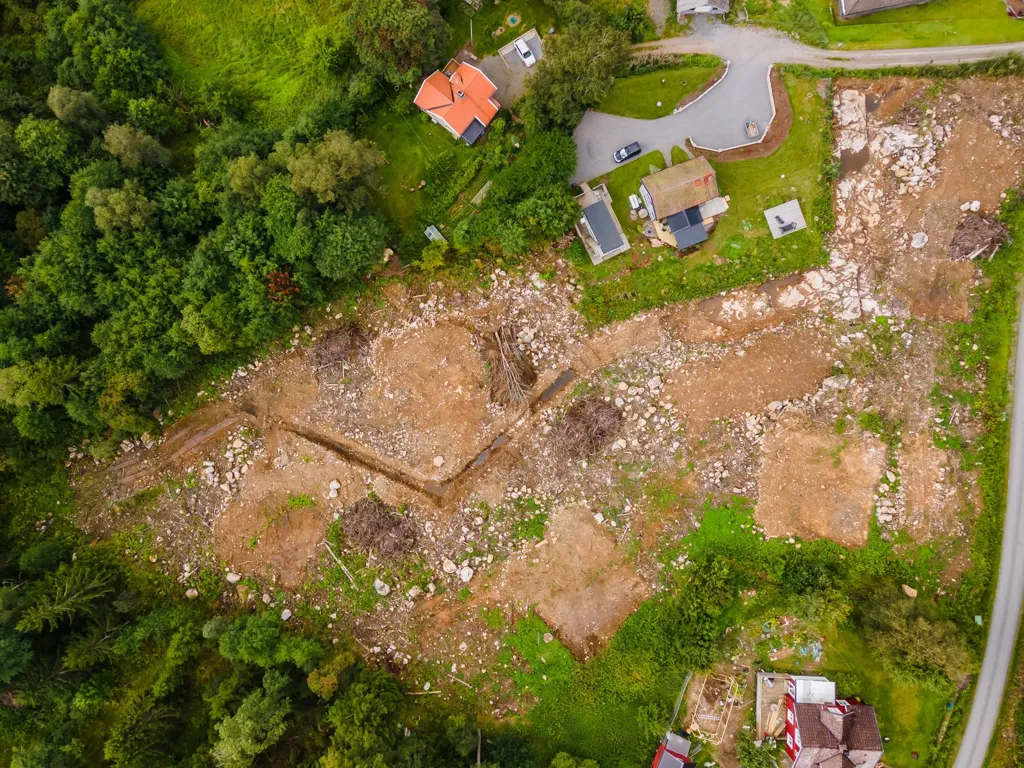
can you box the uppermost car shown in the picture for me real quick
[513,36,536,67]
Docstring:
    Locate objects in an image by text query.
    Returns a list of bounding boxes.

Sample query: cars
[613,140,644,162]
[513,36,536,67]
